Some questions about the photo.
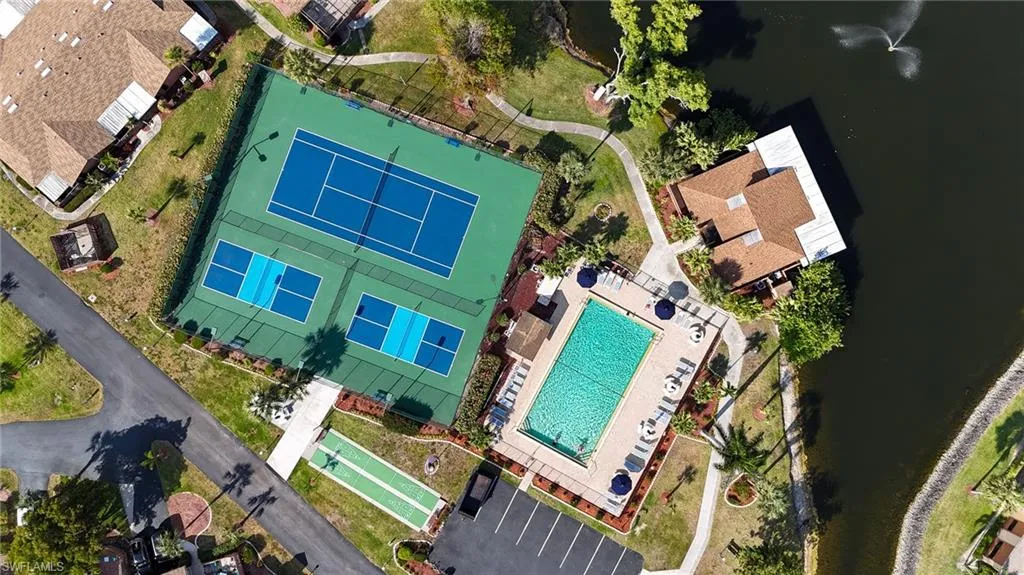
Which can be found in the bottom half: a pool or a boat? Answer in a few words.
pool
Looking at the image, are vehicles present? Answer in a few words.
Yes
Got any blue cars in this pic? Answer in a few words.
No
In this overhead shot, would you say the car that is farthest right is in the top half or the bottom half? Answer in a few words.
bottom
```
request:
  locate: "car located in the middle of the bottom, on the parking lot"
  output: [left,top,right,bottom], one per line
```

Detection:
[463,471,495,517]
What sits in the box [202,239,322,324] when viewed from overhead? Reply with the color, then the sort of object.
blue sports court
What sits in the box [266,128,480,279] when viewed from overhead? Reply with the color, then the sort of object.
blue tennis court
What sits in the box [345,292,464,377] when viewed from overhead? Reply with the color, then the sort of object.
blue sports court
